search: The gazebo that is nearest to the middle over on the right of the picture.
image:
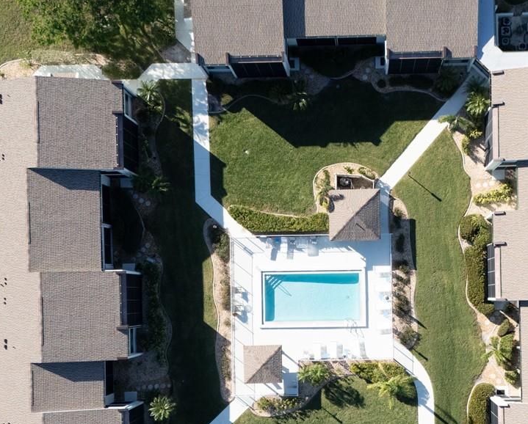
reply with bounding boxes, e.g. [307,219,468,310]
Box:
[328,189,381,242]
